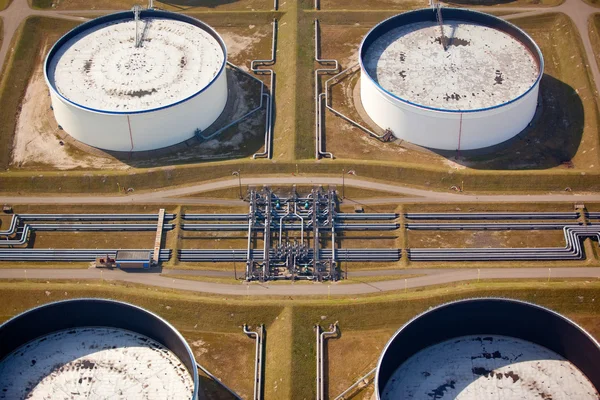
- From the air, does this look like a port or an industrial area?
industrial area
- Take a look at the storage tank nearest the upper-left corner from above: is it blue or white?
white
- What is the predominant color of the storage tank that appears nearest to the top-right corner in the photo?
white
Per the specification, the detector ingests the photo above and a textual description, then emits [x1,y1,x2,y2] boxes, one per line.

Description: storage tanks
[352,0,546,155]
[367,295,600,400]
[0,296,210,400]
[43,0,236,156]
